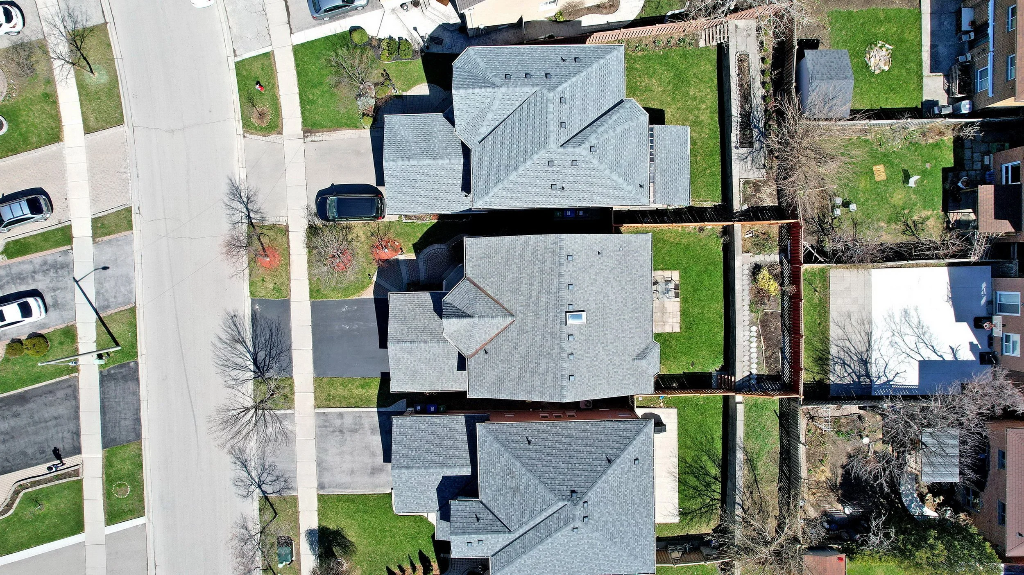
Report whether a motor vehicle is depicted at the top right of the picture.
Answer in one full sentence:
No, no motor vehicle is visible at the top right of the picture.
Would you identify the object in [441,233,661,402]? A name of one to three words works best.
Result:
house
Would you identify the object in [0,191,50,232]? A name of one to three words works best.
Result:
car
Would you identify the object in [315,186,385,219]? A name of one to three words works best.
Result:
car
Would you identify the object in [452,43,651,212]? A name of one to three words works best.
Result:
house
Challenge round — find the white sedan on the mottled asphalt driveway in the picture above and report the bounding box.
[0,292,47,328]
